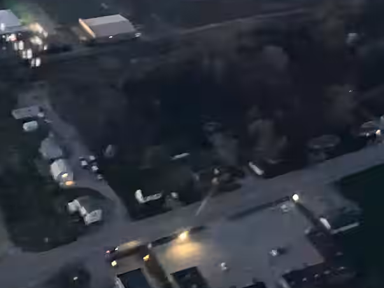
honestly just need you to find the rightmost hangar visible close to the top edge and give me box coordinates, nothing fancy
[73,13,138,43]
